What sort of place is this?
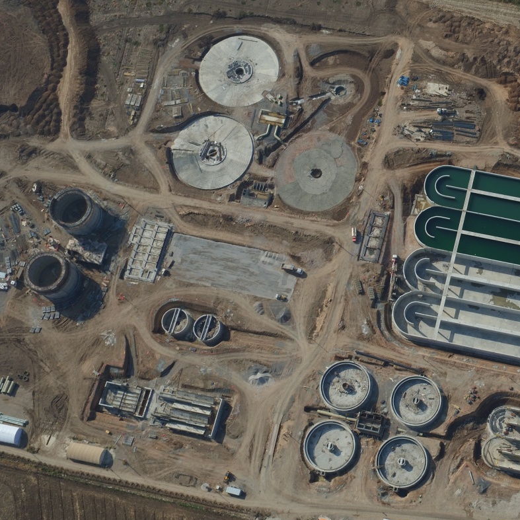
industrial area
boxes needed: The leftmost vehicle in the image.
[7,268,27,285]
